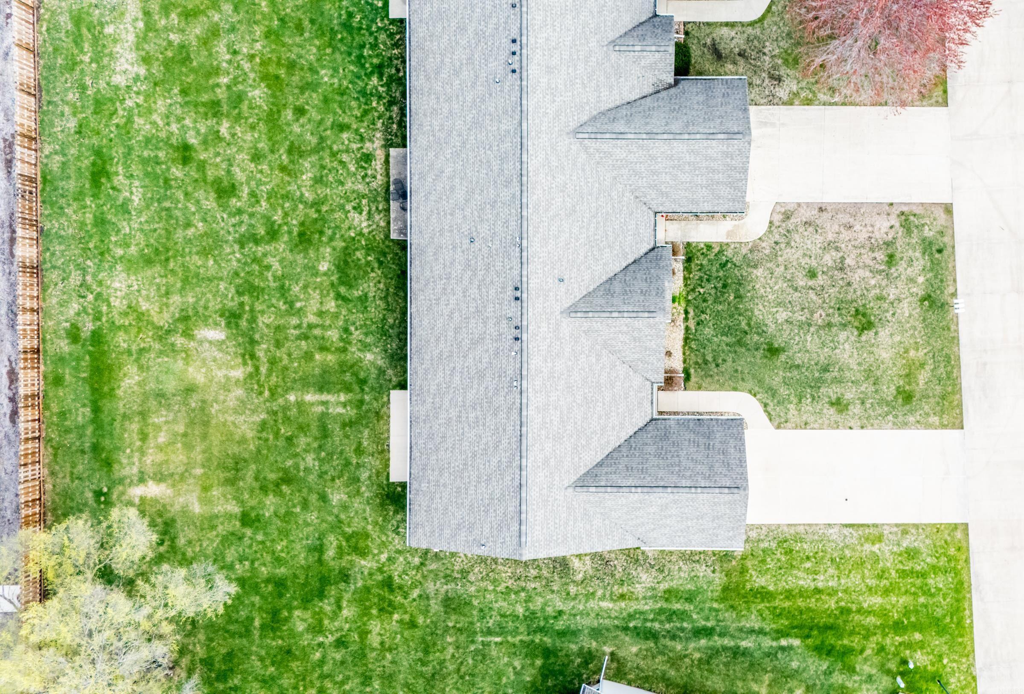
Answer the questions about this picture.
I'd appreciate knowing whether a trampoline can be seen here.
No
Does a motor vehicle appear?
No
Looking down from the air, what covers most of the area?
grass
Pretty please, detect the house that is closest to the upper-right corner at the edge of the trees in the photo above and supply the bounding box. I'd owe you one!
[405,0,751,559]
